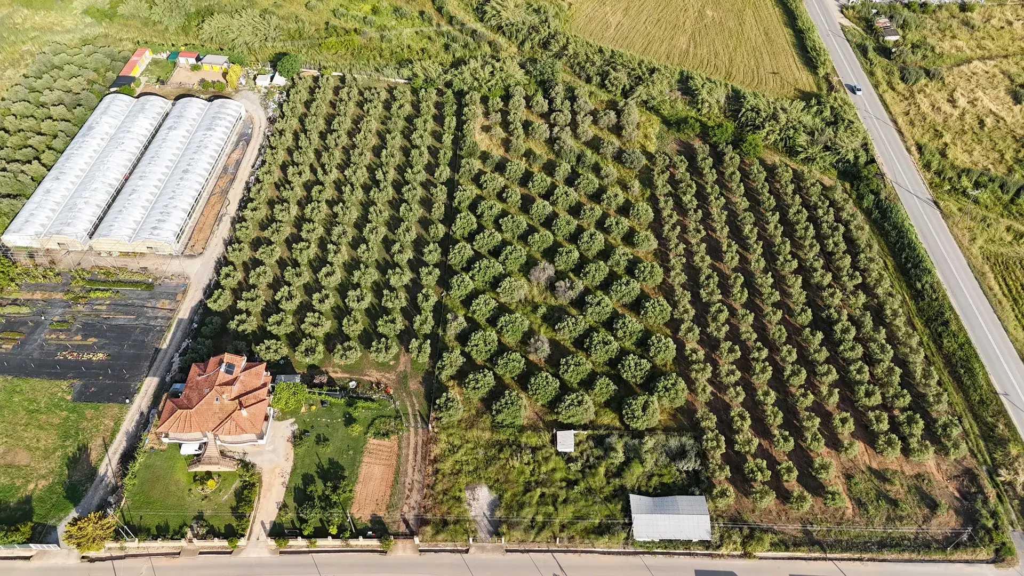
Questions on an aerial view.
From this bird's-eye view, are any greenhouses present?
Yes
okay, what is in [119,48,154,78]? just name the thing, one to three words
building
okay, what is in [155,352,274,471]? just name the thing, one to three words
house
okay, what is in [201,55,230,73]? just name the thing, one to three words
shed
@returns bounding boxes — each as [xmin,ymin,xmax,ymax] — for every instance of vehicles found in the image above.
[853,84,864,95]
[175,445,204,456]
